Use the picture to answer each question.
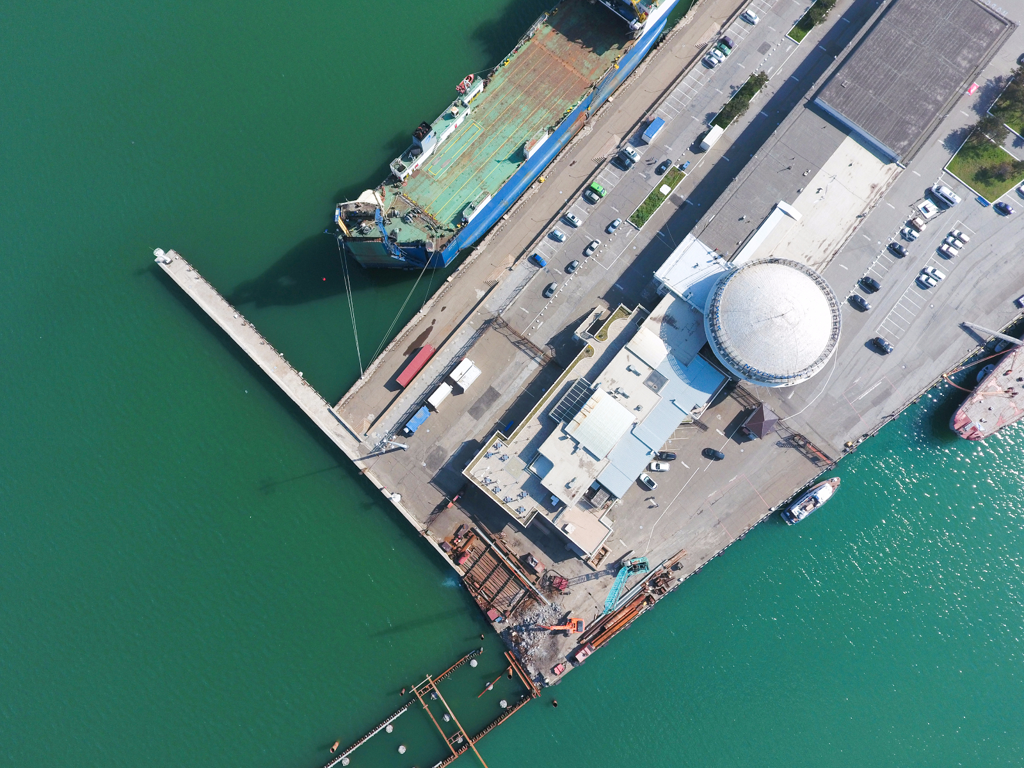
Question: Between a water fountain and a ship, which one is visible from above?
ship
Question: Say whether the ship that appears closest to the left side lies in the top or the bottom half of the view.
top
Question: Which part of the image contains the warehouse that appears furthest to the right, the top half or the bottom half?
top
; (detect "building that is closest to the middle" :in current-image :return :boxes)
[461,292,731,557]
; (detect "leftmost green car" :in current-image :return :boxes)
[590,181,606,197]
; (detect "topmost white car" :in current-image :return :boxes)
[743,9,760,24]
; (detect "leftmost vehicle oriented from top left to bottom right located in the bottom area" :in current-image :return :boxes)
[522,550,548,575]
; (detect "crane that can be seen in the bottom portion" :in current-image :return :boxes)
[584,555,651,613]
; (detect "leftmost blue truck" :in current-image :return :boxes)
[404,407,432,436]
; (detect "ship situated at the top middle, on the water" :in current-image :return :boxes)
[335,0,688,268]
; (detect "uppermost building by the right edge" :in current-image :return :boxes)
[801,0,1017,168]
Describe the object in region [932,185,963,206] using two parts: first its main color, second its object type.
white vehicle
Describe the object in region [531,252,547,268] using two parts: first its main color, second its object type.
blue car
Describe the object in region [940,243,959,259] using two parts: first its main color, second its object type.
white car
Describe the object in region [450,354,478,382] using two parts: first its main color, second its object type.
white truck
